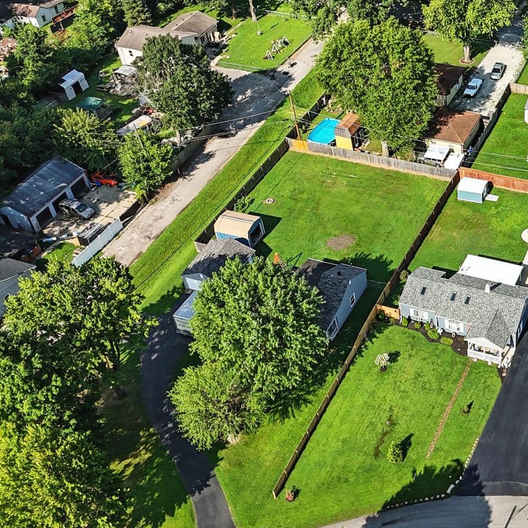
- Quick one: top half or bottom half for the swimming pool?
top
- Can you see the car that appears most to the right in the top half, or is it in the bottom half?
top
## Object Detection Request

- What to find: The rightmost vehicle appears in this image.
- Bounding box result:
[486,60,508,80]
